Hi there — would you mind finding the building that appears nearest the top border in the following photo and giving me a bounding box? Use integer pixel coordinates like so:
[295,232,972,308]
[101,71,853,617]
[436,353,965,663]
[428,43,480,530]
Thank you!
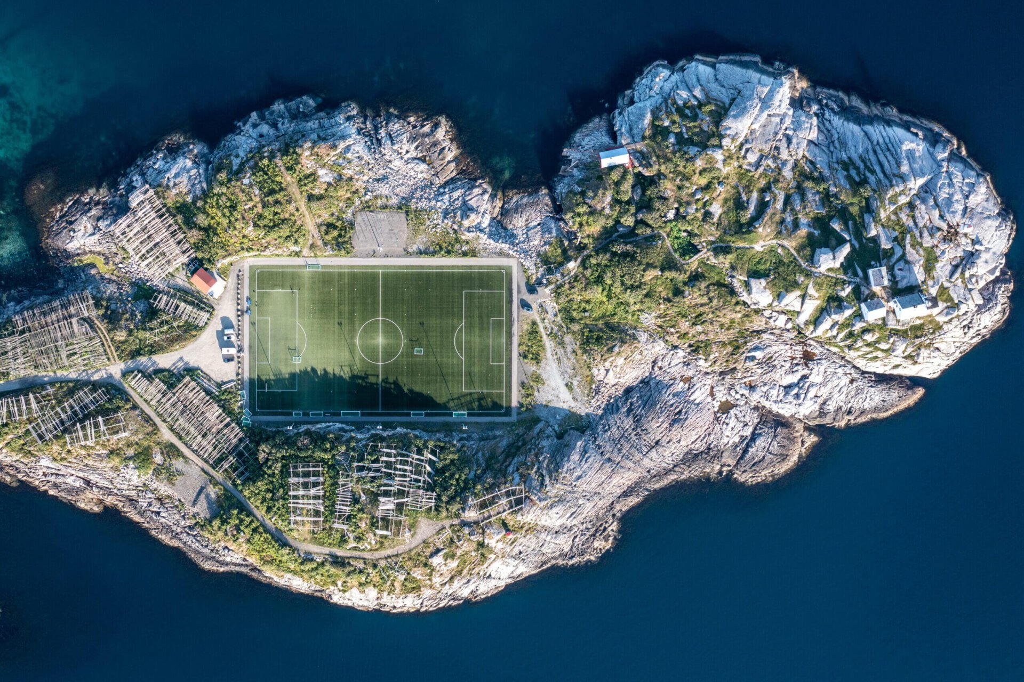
[598,145,632,168]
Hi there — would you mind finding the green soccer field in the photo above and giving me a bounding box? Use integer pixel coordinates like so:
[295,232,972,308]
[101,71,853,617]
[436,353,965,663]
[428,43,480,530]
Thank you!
[249,265,512,417]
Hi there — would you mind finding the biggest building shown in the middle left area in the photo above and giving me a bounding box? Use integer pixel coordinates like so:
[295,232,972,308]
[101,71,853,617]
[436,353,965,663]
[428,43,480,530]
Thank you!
[190,268,217,293]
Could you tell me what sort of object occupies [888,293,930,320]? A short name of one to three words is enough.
house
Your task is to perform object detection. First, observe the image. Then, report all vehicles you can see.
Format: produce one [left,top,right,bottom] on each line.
[522,305,534,314]
[223,335,234,340]
[528,290,538,295]
[222,357,234,363]
[223,328,235,334]
[220,348,236,354]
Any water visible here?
Yes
